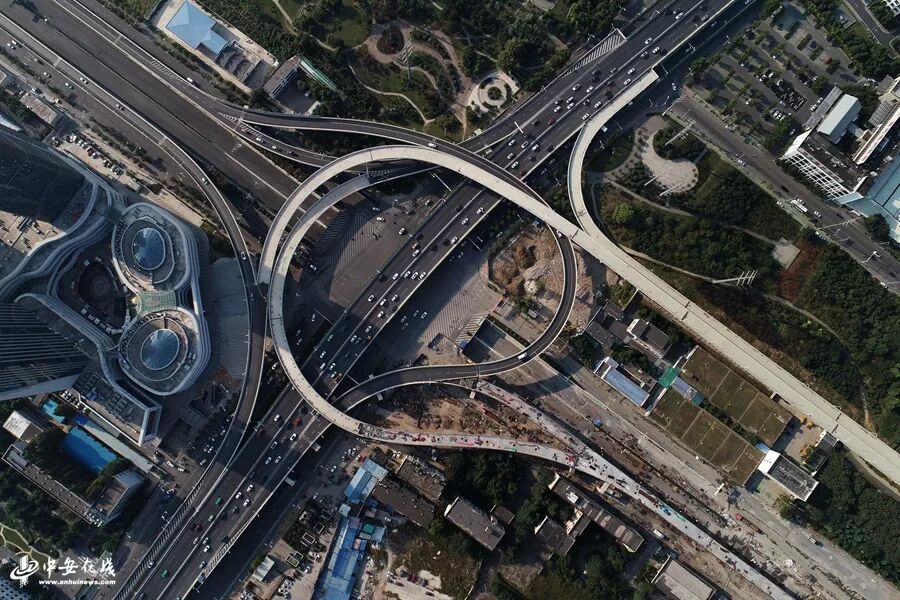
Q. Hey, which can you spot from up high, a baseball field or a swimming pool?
swimming pool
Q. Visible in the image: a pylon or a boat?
pylon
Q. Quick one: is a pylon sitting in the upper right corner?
Yes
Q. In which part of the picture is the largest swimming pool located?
bottom left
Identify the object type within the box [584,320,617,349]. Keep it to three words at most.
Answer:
house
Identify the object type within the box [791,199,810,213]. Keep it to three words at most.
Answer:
vehicle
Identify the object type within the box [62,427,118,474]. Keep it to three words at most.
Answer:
swimming pool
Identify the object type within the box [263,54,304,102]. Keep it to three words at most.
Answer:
building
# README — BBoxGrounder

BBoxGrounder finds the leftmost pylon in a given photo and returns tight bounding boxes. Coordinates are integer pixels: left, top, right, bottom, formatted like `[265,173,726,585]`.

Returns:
[396,51,414,83]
